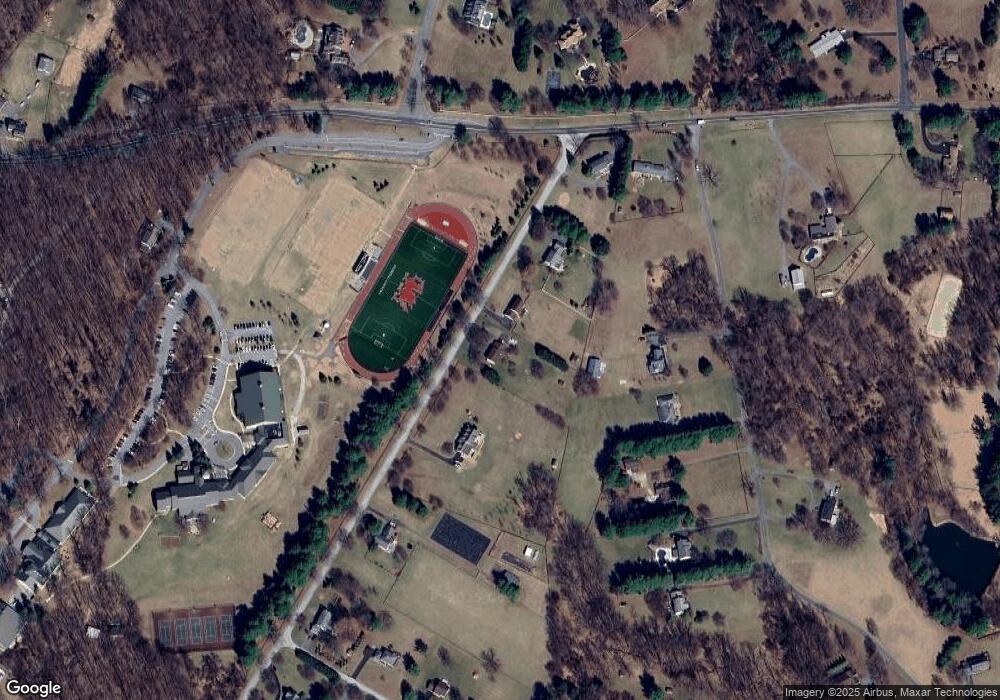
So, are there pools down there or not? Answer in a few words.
Yes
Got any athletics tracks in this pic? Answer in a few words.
Yes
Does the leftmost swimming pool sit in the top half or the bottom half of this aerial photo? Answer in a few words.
top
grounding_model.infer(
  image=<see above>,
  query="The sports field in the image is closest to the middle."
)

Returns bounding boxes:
[349,223,467,373]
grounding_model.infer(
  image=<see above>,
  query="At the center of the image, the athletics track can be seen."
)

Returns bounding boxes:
[340,194,477,382]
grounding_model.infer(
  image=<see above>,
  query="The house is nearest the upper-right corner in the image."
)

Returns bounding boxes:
[934,48,961,62]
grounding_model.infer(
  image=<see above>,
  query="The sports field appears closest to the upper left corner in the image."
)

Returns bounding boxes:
[195,161,305,285]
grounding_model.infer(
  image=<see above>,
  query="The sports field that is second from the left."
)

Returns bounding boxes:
[265,180,387,315]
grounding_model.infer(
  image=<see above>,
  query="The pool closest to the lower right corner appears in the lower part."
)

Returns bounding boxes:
[654,548,674,563]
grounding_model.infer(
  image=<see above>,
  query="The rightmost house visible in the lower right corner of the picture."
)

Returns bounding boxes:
[960,658,991,675]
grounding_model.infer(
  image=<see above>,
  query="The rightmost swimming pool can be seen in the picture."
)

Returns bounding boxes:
[803,245,821,263]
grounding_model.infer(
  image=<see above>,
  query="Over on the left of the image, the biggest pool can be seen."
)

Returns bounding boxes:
[290,21,314,48]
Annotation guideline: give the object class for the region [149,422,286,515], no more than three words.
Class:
building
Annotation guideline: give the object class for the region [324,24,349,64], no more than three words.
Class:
house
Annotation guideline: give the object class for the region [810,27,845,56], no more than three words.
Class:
barn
